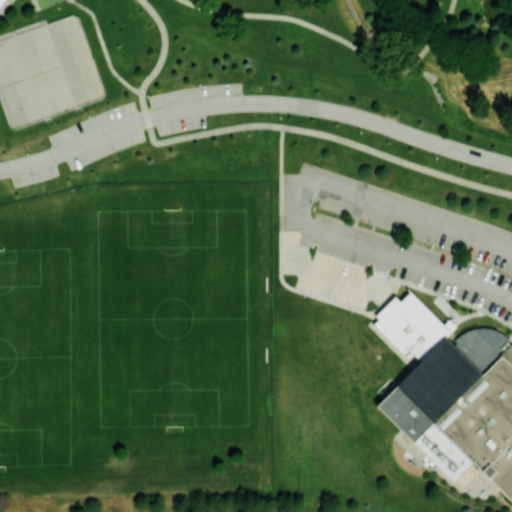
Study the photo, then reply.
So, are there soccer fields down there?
Yes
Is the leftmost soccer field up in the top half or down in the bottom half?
bottom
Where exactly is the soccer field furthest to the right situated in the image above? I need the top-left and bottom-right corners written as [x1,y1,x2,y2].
[95,207,253,432]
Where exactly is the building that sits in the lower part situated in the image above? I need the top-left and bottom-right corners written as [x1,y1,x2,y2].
[374,290,512,497]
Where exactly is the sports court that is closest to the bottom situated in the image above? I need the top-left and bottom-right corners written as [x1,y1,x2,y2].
[0,15,105,128]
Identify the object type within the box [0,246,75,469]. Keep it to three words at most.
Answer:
soccer field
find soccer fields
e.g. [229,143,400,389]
[95,207,253,432]
[0,246,75,469]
